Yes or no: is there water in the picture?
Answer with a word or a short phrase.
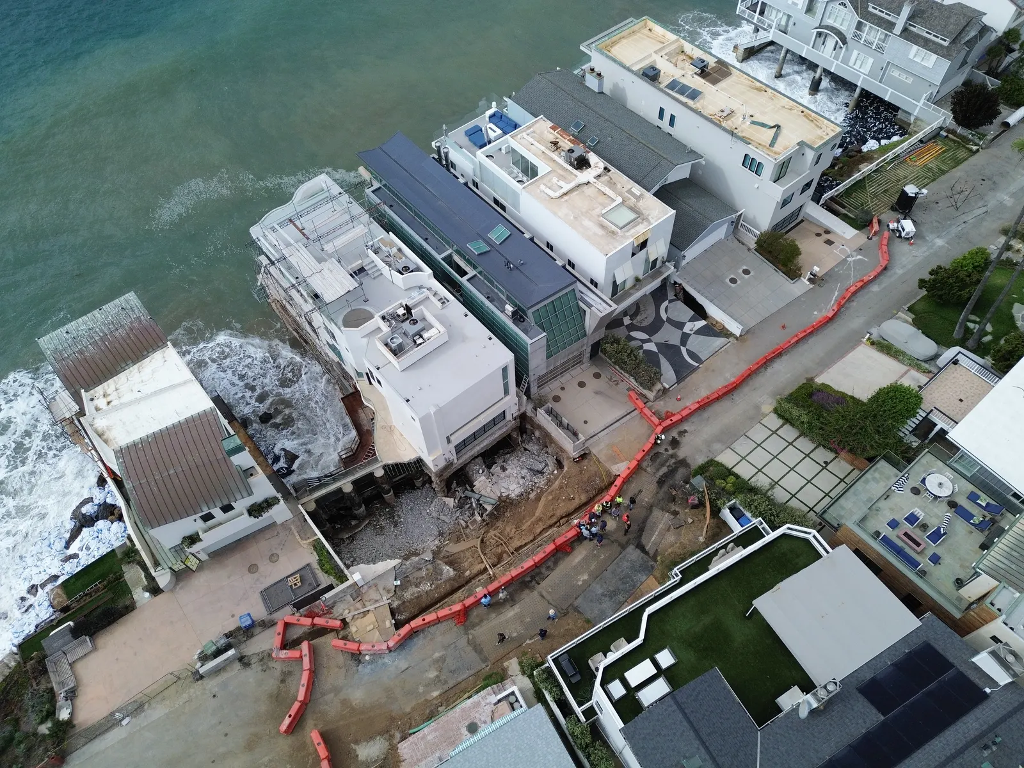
Yes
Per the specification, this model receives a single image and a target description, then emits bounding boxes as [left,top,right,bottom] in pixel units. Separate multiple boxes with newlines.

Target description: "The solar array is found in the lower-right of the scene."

[813,641,989,768]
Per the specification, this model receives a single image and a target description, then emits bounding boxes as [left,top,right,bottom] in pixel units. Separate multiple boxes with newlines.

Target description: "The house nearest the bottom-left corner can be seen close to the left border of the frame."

[39,295,301,588]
